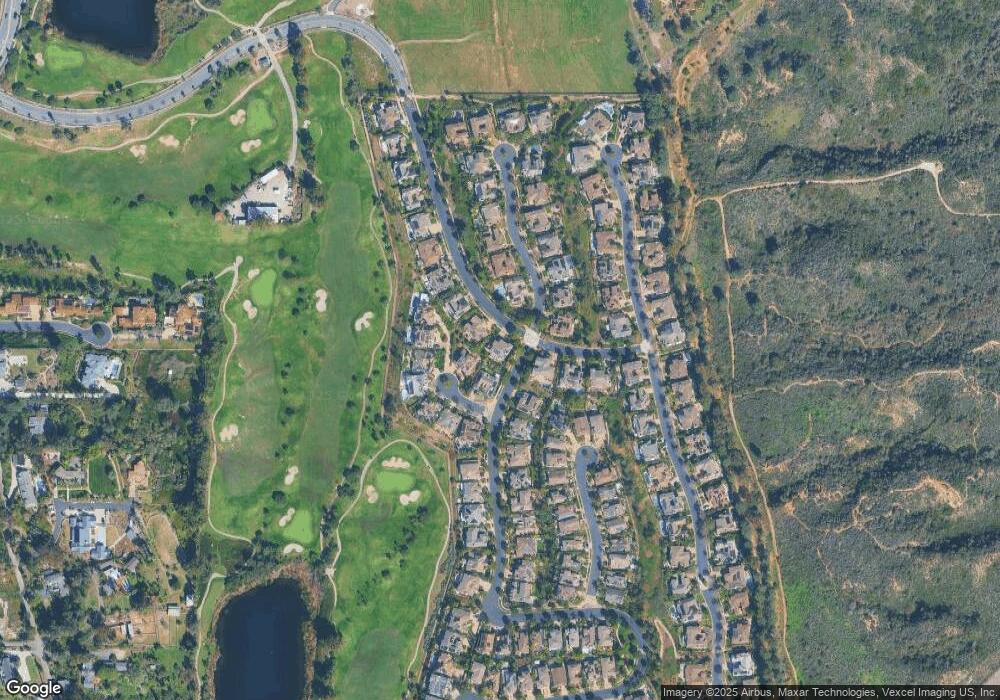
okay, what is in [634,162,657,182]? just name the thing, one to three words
house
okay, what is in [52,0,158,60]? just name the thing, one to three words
pond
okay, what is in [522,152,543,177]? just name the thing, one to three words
house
